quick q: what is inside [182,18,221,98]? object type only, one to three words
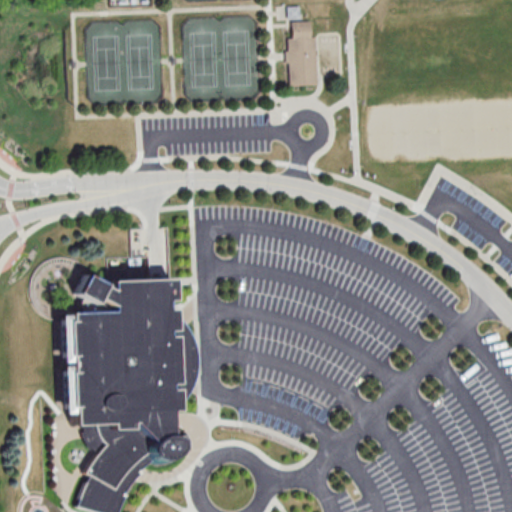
tennis court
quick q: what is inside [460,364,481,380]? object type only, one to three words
vehicle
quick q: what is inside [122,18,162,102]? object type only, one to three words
tennis court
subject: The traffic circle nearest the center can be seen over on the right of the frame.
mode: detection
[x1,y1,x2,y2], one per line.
[286,110,328,152]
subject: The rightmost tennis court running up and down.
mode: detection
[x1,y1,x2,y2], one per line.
[220,16,256,98]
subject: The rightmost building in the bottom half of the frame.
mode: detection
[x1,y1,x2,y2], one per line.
[64,273,200,512]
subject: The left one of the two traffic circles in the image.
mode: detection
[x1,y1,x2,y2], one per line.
[191,447,271,512]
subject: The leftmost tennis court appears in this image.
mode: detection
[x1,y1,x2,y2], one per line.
[86,20,124,102]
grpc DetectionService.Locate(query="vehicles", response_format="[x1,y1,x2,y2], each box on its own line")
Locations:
[480,332,501,344]
[460,364,481,380]
[498,357,512,368]
[355,376,364,387]
[504,366,512,374]
[488,340,508,352]
[432,398,442,407]
[495,348,512,360]
[264,114,270,125]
